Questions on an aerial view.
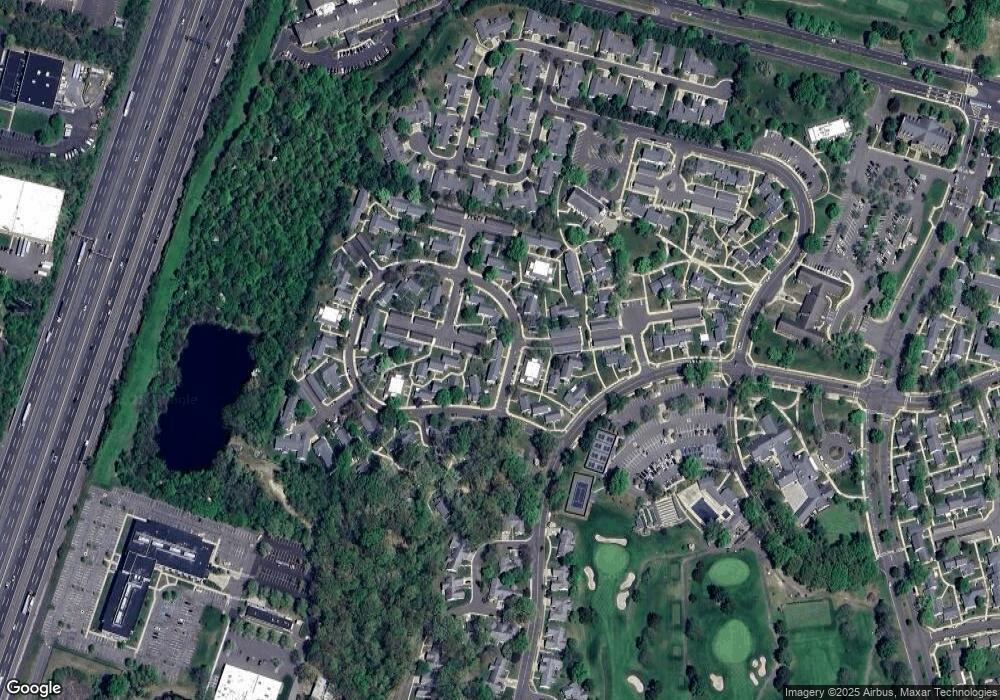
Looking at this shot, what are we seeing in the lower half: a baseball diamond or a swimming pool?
swimming pool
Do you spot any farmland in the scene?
No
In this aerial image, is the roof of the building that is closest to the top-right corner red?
No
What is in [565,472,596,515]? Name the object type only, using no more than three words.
tennis court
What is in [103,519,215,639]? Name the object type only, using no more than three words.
building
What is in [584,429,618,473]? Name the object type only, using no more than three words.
sports court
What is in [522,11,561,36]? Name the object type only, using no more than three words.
house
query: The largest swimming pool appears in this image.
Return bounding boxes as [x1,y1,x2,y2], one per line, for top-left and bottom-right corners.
[678,482,721,523]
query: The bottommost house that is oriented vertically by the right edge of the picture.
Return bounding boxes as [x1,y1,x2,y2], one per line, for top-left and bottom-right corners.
[948,648,964,684]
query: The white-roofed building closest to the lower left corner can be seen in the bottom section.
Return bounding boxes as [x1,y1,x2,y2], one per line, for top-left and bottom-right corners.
[214,664,283,700]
